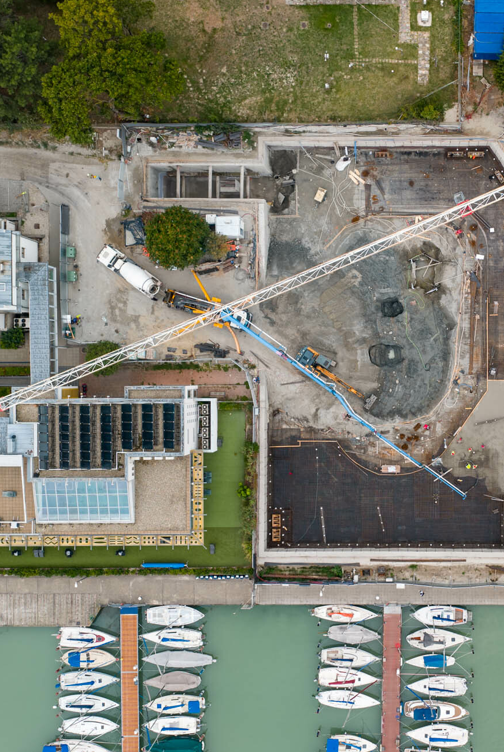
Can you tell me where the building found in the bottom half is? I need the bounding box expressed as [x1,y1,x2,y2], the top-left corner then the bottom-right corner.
[0,386,220,551]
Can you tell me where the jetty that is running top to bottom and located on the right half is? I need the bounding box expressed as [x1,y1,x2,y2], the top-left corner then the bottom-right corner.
[377,600,407,752]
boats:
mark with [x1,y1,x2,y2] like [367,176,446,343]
[410,606,470,633]
[306,605,380,632]
[325,730,377,752]
[141,668,203,705]
[406,625,473,662]
[318,666,380,702]
[324,622,380,655]
[57,668,121,706]
[140,735,207,752]
[317,686,380,729]
[55,691,121,731]
[140,713,205,752]
[140,648,215,683]
[143,606,206,632]
[406,673,467,712]
[139,625,207,659]
[403,721,467,752]
[401,696,470,722]
[141,692,207,731]
[60,713,120,752]
[61,648,120,683]
[406,653,455,677]
[57,627,120,661]
[321,646,381,680]
[43,736,119,752]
